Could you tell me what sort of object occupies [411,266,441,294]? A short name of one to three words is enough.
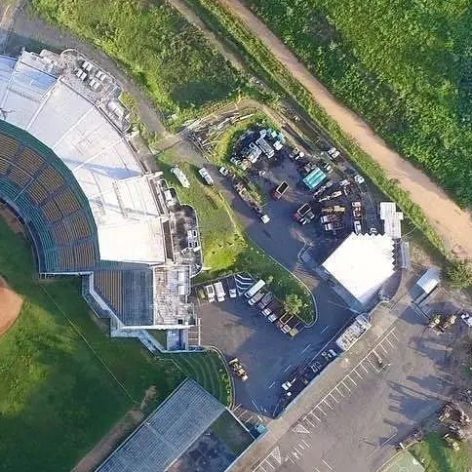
shed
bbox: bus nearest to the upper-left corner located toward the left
[170,161,190,187]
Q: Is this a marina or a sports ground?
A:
sports ground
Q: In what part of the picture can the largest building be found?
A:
right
